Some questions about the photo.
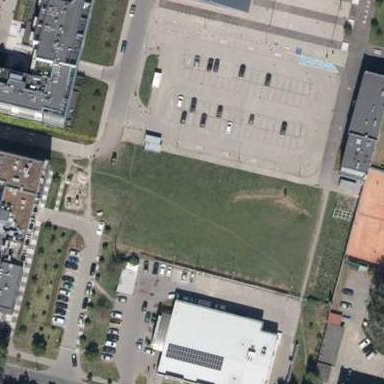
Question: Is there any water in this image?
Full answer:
No, there is no water in the image.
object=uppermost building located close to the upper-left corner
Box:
[0,0,101,117]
